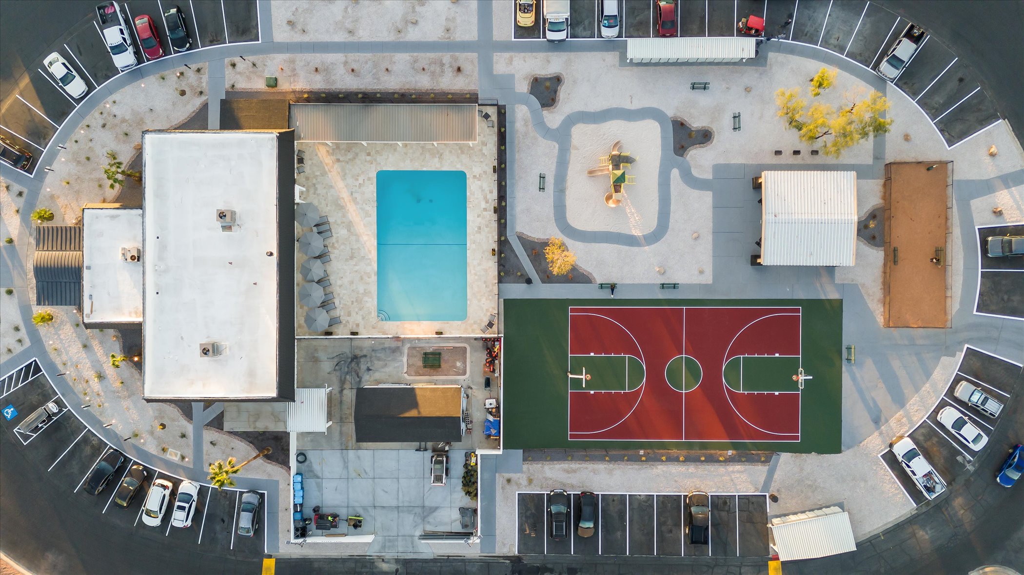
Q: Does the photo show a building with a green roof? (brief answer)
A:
No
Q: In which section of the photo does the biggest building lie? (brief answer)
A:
left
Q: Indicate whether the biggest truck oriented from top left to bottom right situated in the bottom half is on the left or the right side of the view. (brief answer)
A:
right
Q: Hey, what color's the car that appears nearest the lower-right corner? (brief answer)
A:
blue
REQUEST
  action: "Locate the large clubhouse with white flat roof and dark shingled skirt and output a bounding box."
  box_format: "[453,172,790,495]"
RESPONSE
[79,128,312,403]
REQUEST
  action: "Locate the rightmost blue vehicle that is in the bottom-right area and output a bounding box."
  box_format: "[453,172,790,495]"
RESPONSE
[993,440,1024,488]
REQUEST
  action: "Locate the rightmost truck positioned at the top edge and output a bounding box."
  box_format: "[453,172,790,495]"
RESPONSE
[875,20,930,83]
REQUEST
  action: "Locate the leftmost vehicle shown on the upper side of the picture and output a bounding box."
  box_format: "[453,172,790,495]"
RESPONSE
[0,134,35,170]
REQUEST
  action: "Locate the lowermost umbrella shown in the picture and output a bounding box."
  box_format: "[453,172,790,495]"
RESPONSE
[303,307,331,335]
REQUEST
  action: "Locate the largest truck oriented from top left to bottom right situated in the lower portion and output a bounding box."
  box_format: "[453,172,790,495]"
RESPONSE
[887,432,950,502]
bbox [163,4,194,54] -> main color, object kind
black car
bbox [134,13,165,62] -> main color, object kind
red car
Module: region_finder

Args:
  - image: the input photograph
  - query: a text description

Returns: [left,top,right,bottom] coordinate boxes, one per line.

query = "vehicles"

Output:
[951,381,1006,419]
[547,488,570,542]
[0,134,35,170]
[739,15,772,39]
[993,440,1024,488]
[875,20,930,83]
[686,489,711,546]
[236,489,262,537]
[134,13,165,62]
[429,444,450,487]
[93,0,139,73]
[598,0,622,39]
[517,0,536,24]
[544,0,572,44]
[43,50,91,101]
[83,448,126,497]
[174,479,203,529]
[576,490,598,539]
[887,432,950,502]
[113,463,149,511]
[934,406,988,452]
[655,0,678,36]
[143,478,175,528]
[981,234,1024,258]
[10,402,62,439]
[163,4,194,54]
